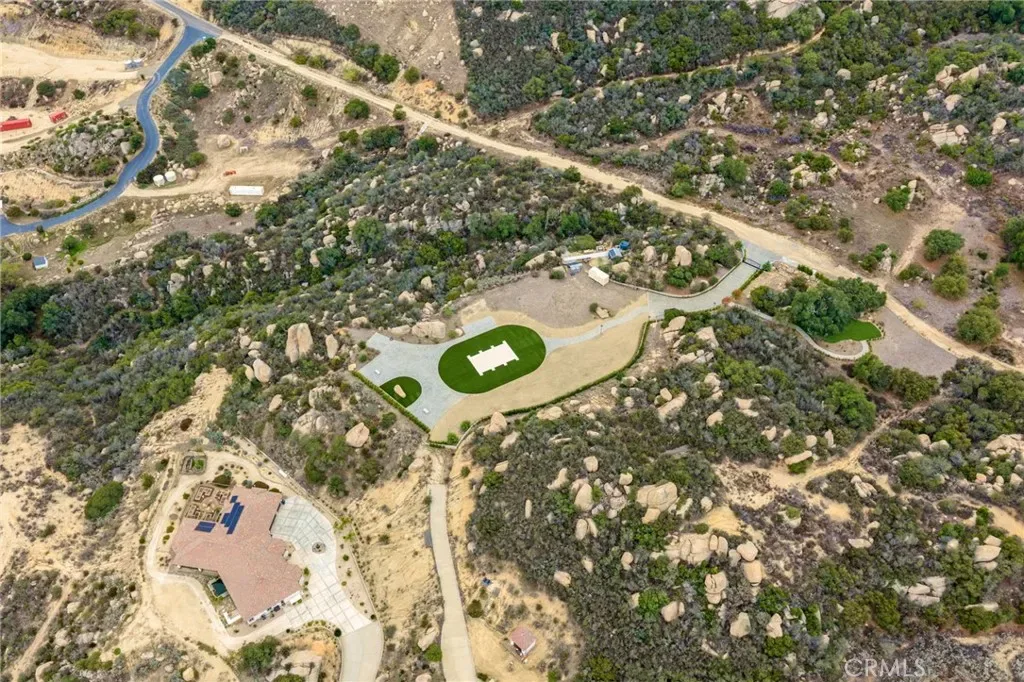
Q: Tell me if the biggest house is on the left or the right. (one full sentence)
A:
The biggest house is on the left side of the image.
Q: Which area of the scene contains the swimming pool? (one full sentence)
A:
The swimming pool sits in the bottom left section of the image.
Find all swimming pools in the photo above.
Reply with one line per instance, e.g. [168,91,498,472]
[208,576,228,599]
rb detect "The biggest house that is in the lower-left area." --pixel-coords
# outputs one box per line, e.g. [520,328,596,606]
[170,486,303,626]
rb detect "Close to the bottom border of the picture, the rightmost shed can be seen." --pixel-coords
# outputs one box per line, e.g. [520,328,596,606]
[510,626,538,657]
